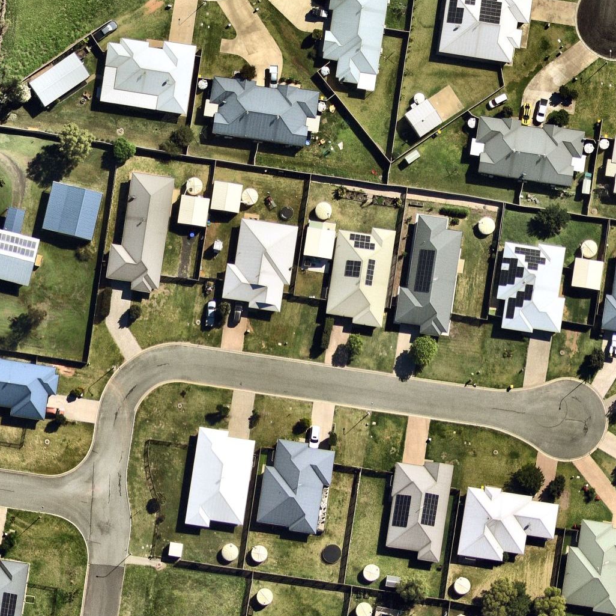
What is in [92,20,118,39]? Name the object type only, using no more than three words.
vehicle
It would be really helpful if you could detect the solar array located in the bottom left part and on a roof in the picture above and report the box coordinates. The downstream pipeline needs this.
[0,593,16,616]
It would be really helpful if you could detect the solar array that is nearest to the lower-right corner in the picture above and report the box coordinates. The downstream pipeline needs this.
[421,494,438,526]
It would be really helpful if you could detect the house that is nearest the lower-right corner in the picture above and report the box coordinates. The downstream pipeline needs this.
[563,519,616,615]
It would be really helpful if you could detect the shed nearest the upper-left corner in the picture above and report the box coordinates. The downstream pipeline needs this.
[28,53,89,107]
